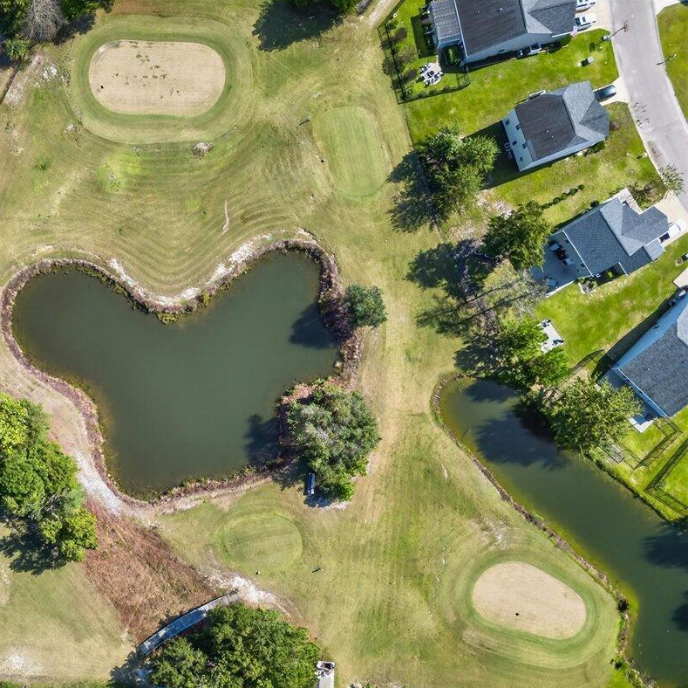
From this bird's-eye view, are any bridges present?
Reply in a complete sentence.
Yes, this view includes a bridge.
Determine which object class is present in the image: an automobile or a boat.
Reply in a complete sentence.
Visible in the photo is an automobile.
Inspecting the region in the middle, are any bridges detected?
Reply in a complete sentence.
No, the scene shows no bridge in the middle.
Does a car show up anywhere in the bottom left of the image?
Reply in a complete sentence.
No, in the bottom left of the image there is no car.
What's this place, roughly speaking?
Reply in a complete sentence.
This image shows a golf course.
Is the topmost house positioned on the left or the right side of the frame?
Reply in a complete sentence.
It is on the right.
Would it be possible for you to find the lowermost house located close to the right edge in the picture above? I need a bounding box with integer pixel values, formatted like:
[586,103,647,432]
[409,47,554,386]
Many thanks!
[609,294,688,417]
